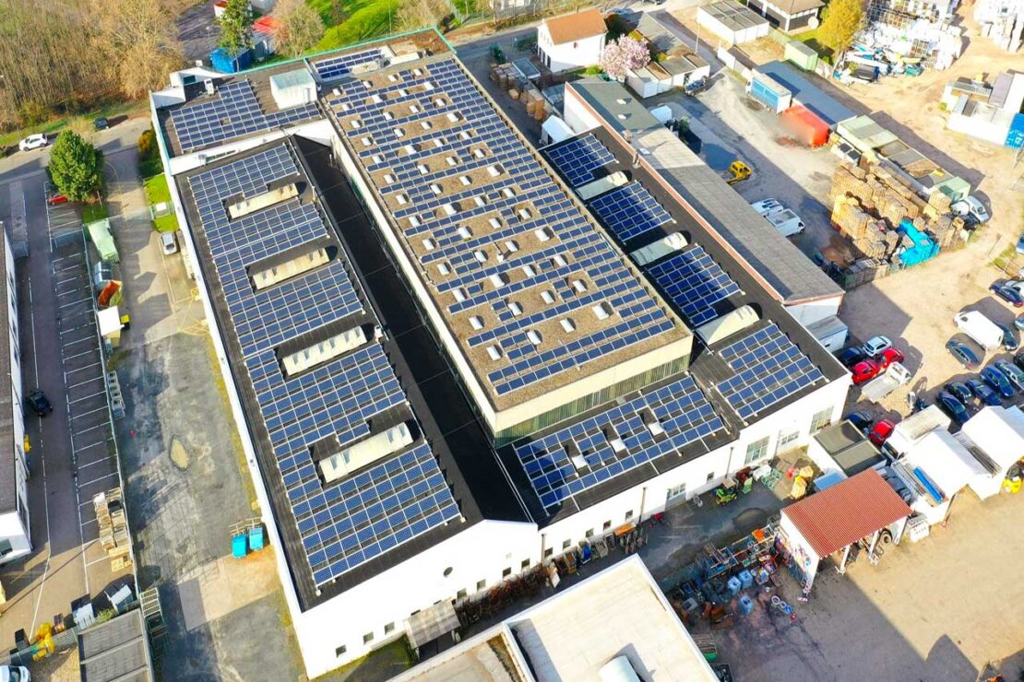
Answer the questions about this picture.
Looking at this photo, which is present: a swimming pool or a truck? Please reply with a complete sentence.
There is a truck in the scene.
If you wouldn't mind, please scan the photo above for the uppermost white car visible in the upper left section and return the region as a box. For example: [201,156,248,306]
[18,132,49,152]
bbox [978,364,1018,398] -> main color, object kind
blue car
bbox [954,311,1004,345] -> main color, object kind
white van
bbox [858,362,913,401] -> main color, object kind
white truck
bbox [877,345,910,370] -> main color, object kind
red car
